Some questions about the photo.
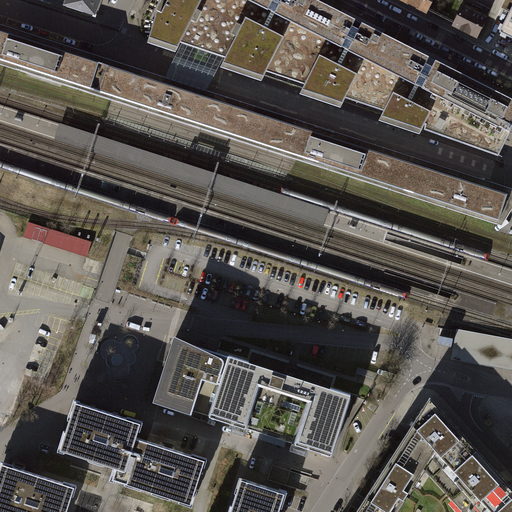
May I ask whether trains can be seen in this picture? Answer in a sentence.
Yes, this view includes a train.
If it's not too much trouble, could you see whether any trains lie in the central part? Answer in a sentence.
Yes, a train shows up in the central part.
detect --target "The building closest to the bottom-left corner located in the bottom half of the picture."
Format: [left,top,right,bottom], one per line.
[0,456,82,512]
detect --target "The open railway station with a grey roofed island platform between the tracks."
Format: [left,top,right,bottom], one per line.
[0,101,512,287]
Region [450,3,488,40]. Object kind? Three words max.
house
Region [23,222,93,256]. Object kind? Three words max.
building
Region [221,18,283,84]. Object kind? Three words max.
building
